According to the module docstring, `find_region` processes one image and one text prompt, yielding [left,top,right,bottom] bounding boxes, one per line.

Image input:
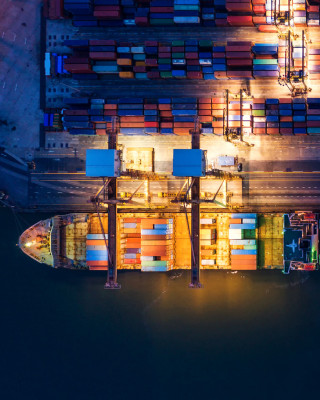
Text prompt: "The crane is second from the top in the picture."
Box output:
[286,29,314,96]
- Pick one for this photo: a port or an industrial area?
port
